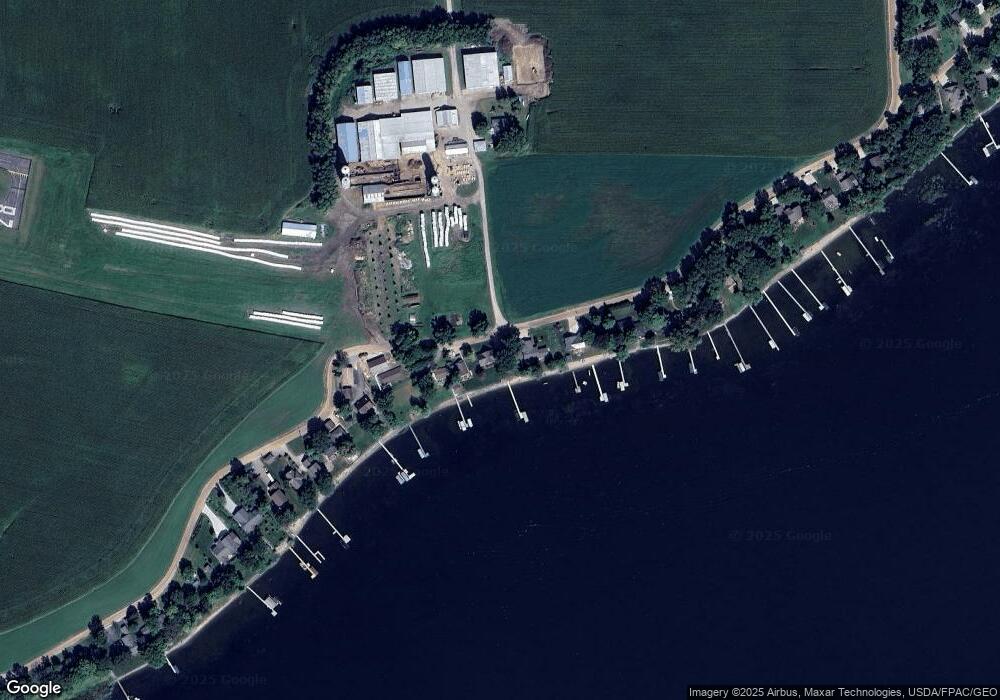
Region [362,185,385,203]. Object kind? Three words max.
barn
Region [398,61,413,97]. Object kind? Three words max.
shed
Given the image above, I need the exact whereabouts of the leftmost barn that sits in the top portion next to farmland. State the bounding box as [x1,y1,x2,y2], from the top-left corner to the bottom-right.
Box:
[282,223,316,237]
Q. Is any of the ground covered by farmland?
Yes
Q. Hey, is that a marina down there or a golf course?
marina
